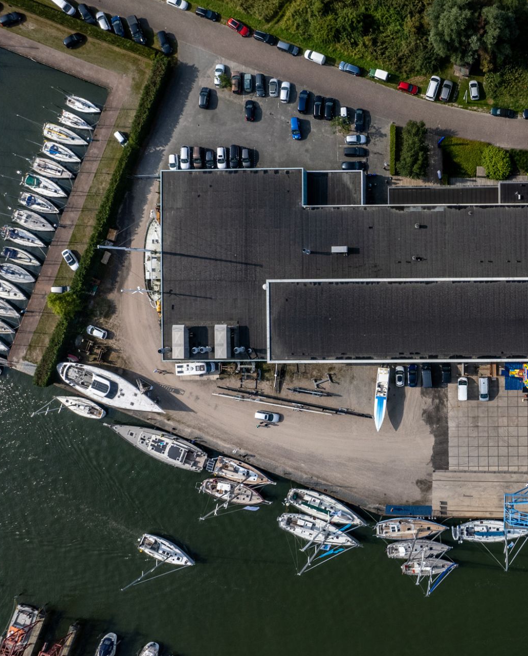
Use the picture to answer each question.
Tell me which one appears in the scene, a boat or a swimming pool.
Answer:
boat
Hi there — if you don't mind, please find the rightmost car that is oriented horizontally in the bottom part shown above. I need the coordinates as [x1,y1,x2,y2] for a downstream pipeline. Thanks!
[255,410,280,423]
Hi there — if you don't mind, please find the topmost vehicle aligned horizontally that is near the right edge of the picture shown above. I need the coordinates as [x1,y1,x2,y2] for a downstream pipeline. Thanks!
[490,106,514,119]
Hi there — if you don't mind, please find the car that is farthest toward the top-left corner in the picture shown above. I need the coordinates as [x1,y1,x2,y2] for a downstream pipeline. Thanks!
[0,11,24,28]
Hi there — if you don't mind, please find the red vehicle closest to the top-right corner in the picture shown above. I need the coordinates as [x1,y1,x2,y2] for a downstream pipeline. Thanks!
[398,82,419,95]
